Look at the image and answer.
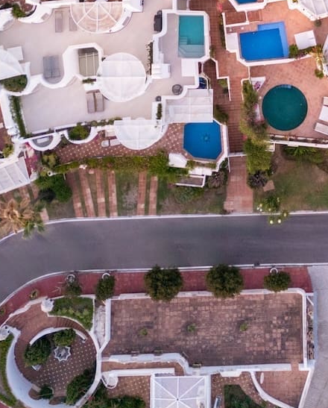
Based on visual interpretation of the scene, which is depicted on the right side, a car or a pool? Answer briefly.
pool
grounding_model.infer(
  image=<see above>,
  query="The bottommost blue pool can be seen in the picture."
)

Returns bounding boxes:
[181,119,223,161]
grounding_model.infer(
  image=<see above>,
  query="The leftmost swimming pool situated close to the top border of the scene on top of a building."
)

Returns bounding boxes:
[177,15,207,59]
